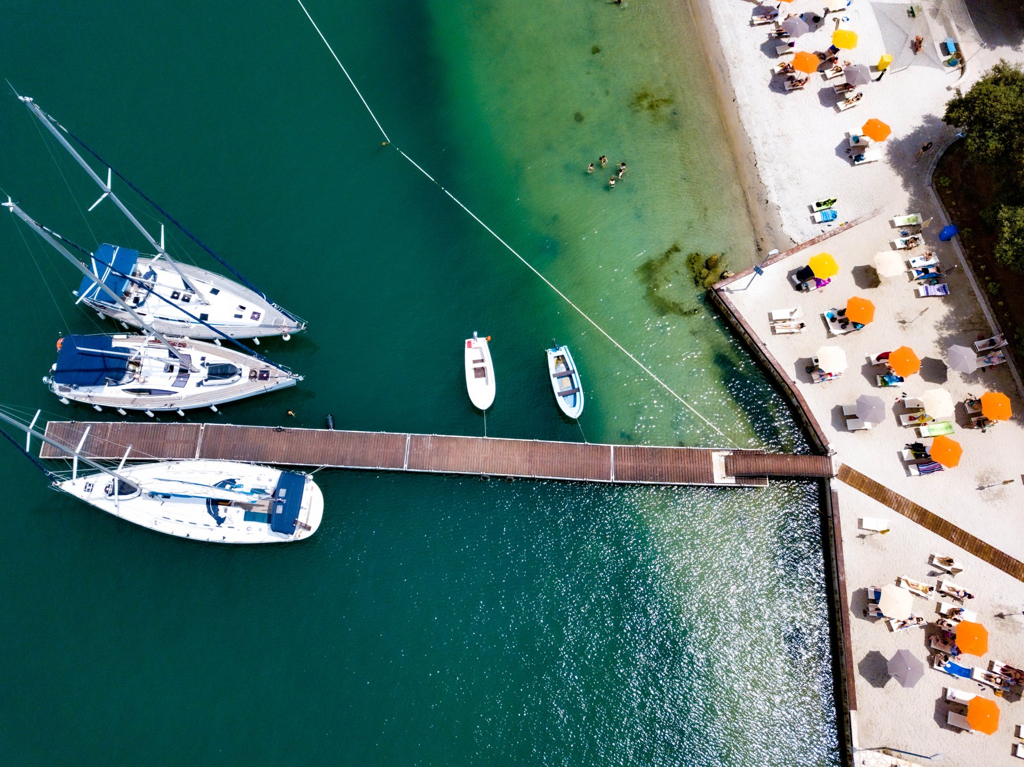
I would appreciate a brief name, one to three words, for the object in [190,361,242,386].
boat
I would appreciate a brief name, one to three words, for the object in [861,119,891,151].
umbrella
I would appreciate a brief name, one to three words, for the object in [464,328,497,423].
boat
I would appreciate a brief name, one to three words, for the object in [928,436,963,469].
umbrella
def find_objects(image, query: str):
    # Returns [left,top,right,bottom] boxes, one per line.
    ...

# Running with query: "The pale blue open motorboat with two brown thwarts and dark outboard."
[547,333,587,443]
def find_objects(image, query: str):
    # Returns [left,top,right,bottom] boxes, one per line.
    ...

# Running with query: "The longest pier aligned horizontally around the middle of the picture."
[39,420,770,486]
